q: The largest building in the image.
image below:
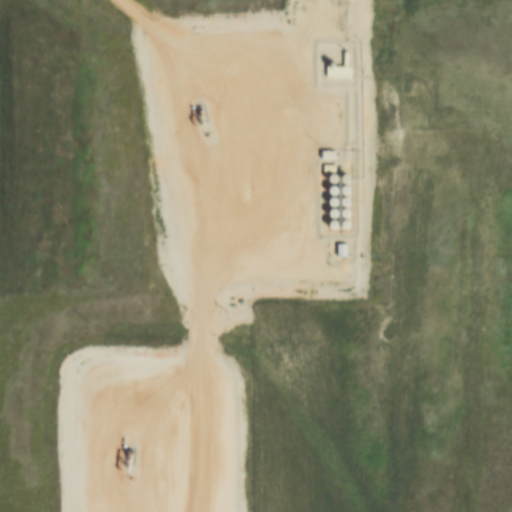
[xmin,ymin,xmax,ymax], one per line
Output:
[330,50,352,78]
